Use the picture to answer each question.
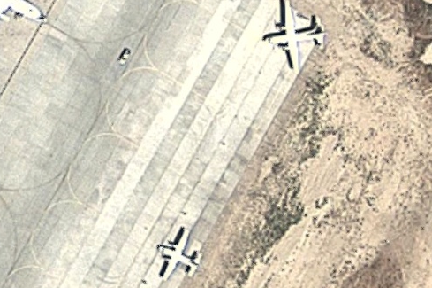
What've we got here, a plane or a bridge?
plane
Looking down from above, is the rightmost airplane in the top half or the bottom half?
top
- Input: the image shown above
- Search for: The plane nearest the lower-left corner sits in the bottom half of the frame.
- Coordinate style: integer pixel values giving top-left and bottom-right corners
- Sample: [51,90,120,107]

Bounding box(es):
[160,227,202,280]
